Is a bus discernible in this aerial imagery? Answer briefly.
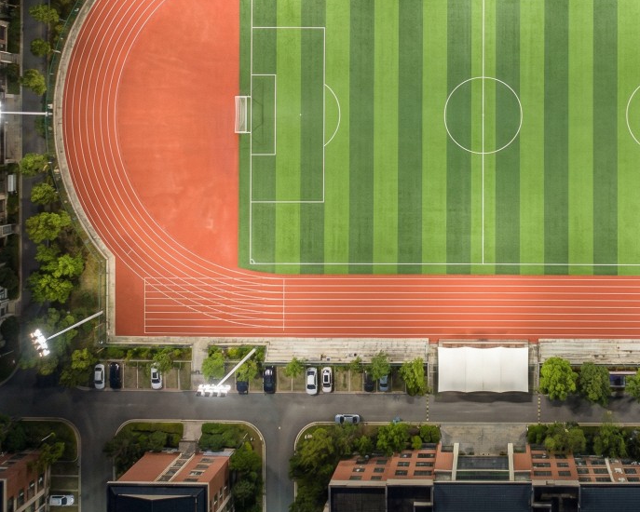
No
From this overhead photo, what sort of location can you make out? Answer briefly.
sports ground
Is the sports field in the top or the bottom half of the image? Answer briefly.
top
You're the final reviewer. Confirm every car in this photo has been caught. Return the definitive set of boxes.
[306,368,318,394]
[335,413,360,424]
[151,365,163,390]
[322,368,332,392]
[364,369,375,394]
[379,371,389,393]
[109,362,122,388]
[237,378,248,392]
[93,364,106,388]
[51,493,74,507]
